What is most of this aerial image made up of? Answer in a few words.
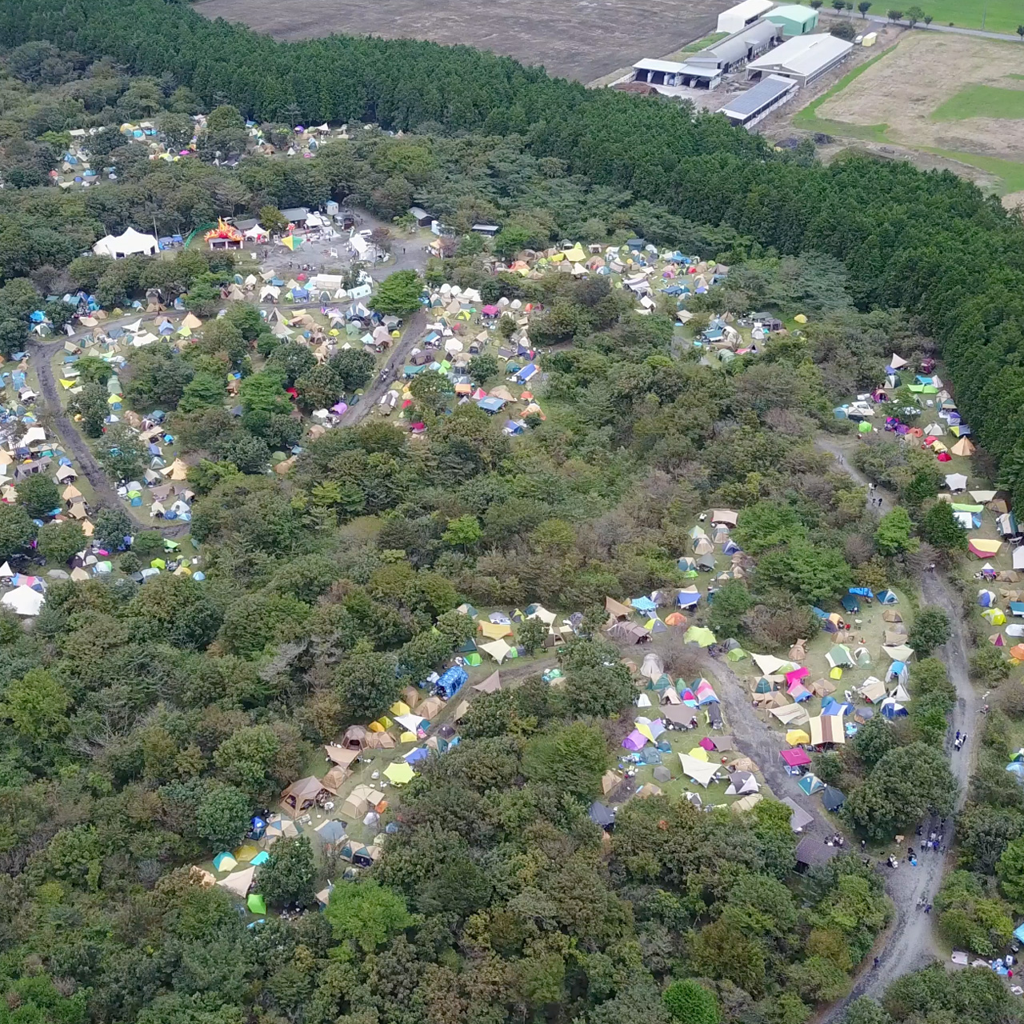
trees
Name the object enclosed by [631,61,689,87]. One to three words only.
shed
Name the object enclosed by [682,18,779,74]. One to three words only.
barn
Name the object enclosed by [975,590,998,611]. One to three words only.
tent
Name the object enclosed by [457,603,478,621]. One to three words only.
tent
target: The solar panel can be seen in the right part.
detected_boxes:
[720,78,793,117]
